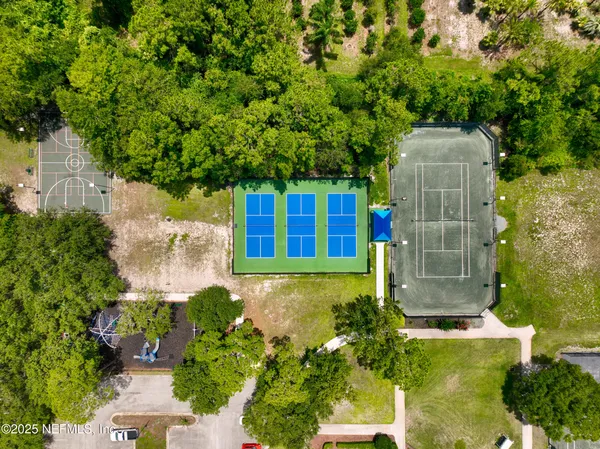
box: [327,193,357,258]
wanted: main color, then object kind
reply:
blue sports court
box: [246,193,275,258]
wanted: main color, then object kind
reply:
blue sports court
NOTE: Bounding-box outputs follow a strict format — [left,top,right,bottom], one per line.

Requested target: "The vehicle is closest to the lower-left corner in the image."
[110,428,140,443]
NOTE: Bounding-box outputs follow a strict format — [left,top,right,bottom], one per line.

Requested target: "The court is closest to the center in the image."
[287,193,316,258]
